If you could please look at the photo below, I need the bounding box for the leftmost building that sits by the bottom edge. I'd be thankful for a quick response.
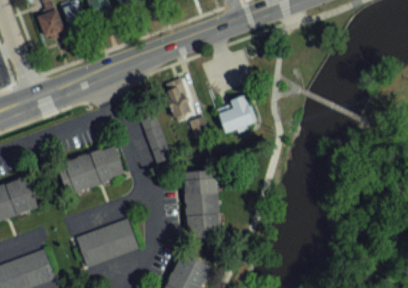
[0,250,54,288]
